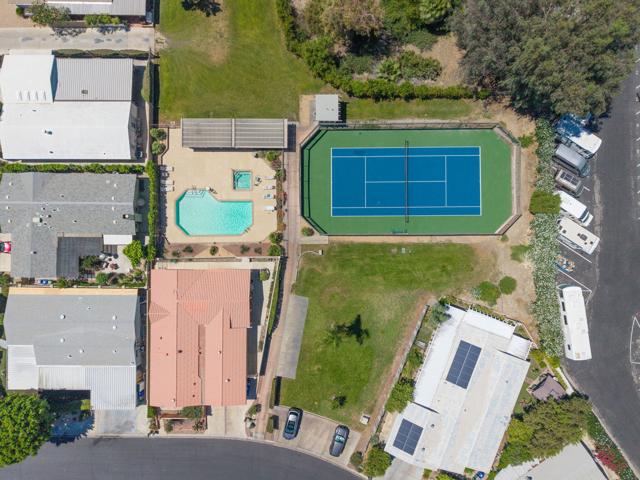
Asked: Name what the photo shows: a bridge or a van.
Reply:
van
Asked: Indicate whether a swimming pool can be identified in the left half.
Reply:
Yes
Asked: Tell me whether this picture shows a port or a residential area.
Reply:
residential area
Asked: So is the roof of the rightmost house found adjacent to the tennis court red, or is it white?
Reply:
white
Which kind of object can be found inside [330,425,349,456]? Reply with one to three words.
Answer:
car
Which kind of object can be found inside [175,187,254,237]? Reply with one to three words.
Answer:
swimming pool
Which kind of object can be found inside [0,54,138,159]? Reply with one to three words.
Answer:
house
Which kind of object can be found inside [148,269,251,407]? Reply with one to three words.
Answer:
house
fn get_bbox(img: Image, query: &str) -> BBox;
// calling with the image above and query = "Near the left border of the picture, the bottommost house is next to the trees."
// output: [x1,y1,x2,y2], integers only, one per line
[4,288,144,410]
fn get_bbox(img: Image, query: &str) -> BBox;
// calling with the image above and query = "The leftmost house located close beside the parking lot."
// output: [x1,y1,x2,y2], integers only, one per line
[383,304,532,473]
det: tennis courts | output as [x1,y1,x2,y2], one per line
[302,128,512,236]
